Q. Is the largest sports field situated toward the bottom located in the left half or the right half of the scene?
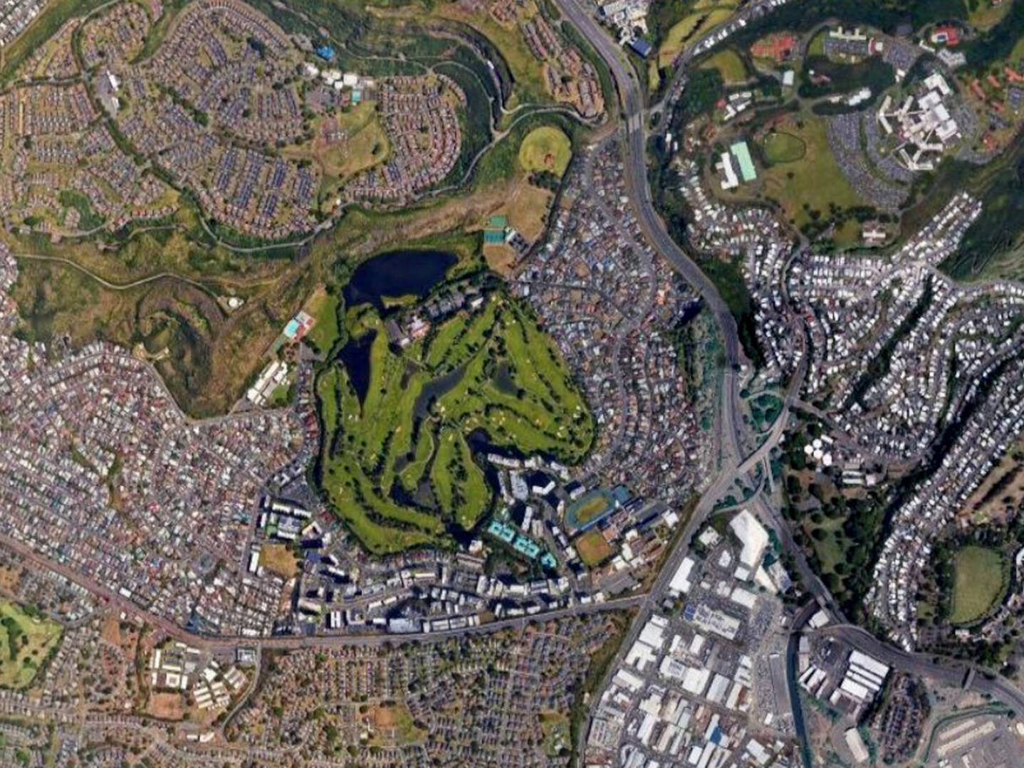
right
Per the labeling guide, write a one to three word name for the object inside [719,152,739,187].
building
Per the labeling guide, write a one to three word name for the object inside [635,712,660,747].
building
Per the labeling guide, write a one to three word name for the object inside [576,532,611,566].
sports field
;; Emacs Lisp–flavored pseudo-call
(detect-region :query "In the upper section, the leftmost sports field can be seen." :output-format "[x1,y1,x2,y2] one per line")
[504,189,554,235]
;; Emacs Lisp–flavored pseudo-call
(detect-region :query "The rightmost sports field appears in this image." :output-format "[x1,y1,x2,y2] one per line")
[951,547,1003,622]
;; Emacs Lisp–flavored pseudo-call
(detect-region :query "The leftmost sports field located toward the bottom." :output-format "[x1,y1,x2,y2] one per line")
[149,694,185,719]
